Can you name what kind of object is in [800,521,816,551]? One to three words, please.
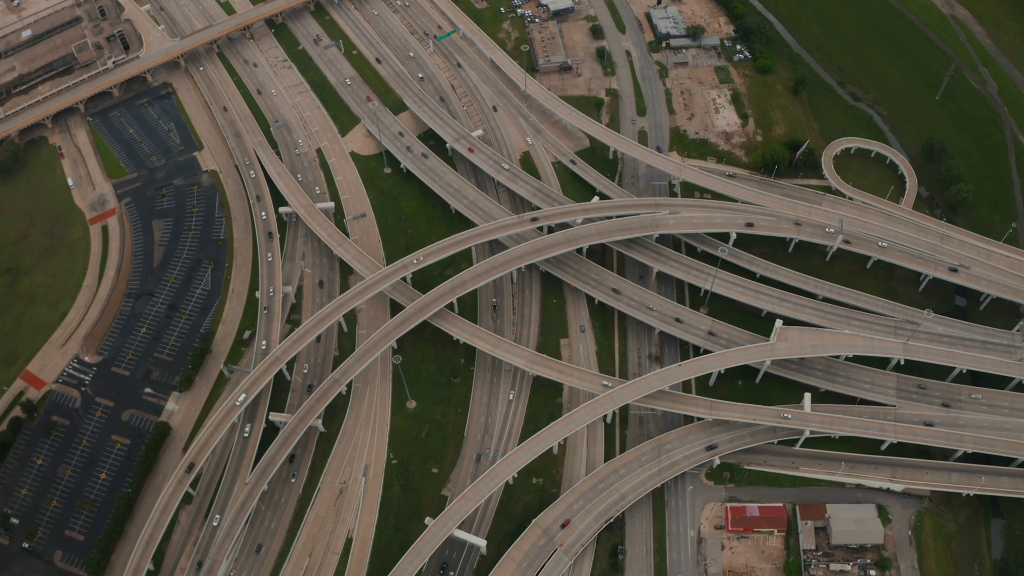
shed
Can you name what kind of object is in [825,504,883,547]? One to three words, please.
shed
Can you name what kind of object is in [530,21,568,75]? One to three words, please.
building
